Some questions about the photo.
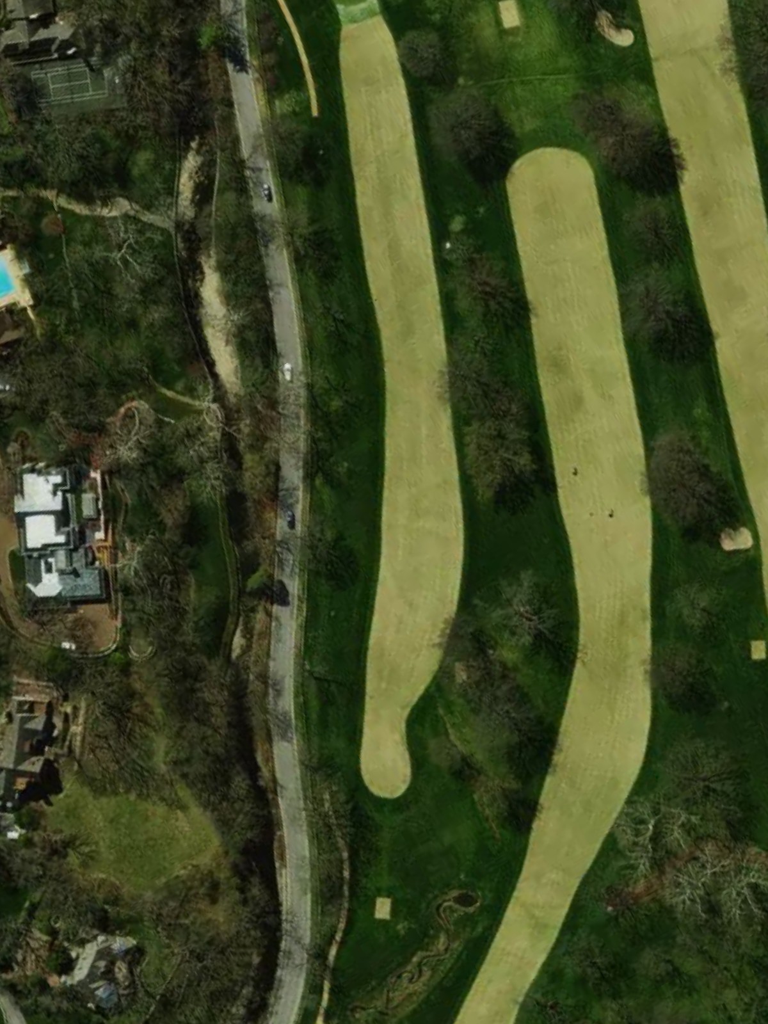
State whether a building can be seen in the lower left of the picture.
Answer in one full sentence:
Yes, you'll find a building in the lower left of the picture.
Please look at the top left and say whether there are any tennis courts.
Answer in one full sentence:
Yes, a tennis court shows up at the top left.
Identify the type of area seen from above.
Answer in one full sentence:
It's a golf course.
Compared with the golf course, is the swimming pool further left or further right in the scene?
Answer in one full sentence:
From the viewer's perspective, the swimming pool falls to the left of the golf course.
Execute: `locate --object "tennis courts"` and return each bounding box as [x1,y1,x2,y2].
[14,49,133,119]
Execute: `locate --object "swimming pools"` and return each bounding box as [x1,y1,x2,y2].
[0,245,33,308]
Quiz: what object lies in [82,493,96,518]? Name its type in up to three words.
building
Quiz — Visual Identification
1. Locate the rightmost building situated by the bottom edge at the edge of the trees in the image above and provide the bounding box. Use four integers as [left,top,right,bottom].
[61,934,136,1008]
